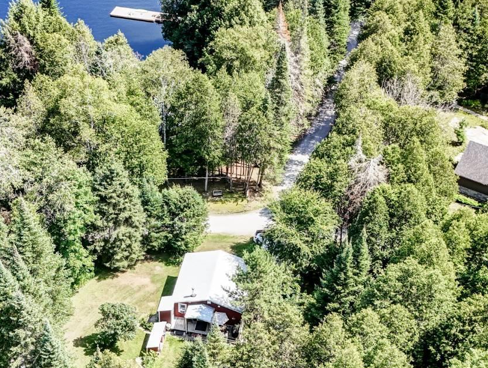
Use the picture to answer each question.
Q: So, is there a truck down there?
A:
No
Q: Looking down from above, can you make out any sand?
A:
No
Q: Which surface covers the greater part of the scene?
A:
trees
